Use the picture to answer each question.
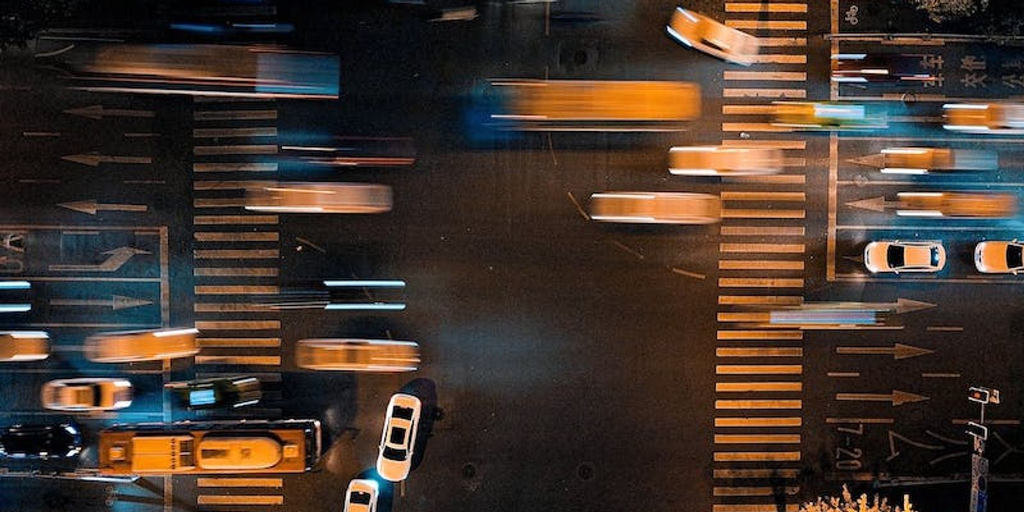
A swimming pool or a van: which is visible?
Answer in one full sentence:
There is a van in the scene.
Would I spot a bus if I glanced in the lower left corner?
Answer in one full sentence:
Yes, you'll find a bus in the lower left corner.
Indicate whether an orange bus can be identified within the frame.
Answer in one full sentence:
Yes, the photo shows an orange bus.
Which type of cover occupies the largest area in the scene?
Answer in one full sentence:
The bulk of the photo consists of paved ground.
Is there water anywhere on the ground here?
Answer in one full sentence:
No, there's no water in this view.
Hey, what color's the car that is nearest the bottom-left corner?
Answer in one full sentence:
In this view, the car that is nearest the bottom-left corner is black.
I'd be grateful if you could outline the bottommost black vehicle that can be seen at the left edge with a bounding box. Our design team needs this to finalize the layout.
[0,421,89,461]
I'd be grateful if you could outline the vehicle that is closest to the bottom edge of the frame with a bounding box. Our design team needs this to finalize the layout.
[344,474,382,512]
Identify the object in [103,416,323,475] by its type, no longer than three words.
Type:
bus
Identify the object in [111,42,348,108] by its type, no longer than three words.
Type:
bus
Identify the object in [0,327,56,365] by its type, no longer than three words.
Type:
car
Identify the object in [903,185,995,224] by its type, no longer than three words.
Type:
car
